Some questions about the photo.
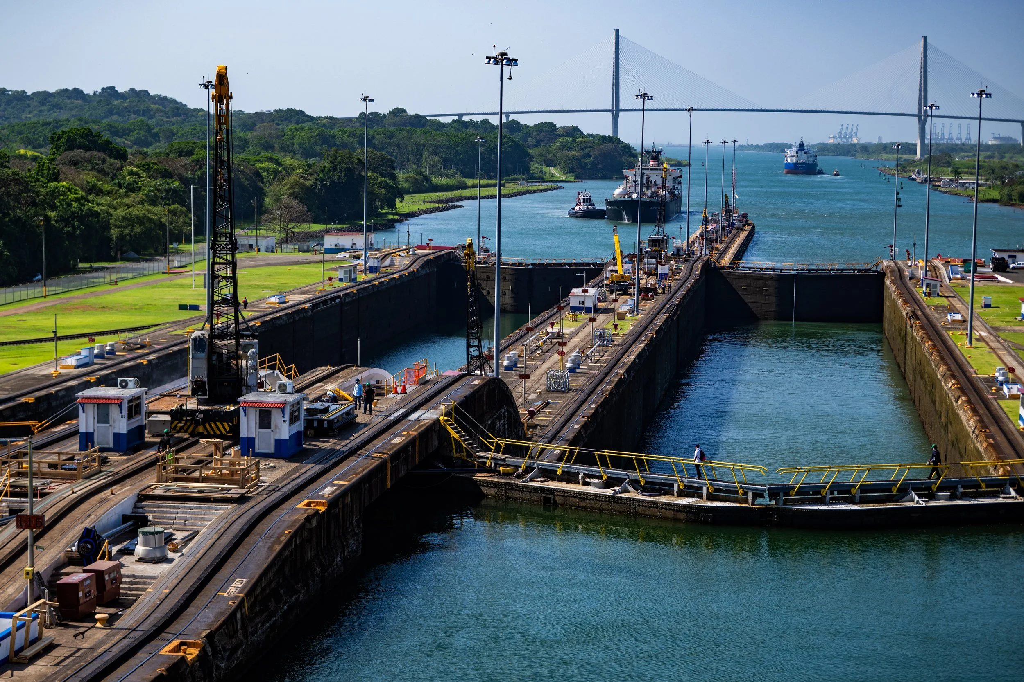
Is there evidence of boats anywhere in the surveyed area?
Yes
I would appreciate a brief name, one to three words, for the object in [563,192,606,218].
boat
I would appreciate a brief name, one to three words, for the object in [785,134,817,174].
ship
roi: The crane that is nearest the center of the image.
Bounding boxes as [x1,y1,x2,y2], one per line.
[461,223,510,373]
